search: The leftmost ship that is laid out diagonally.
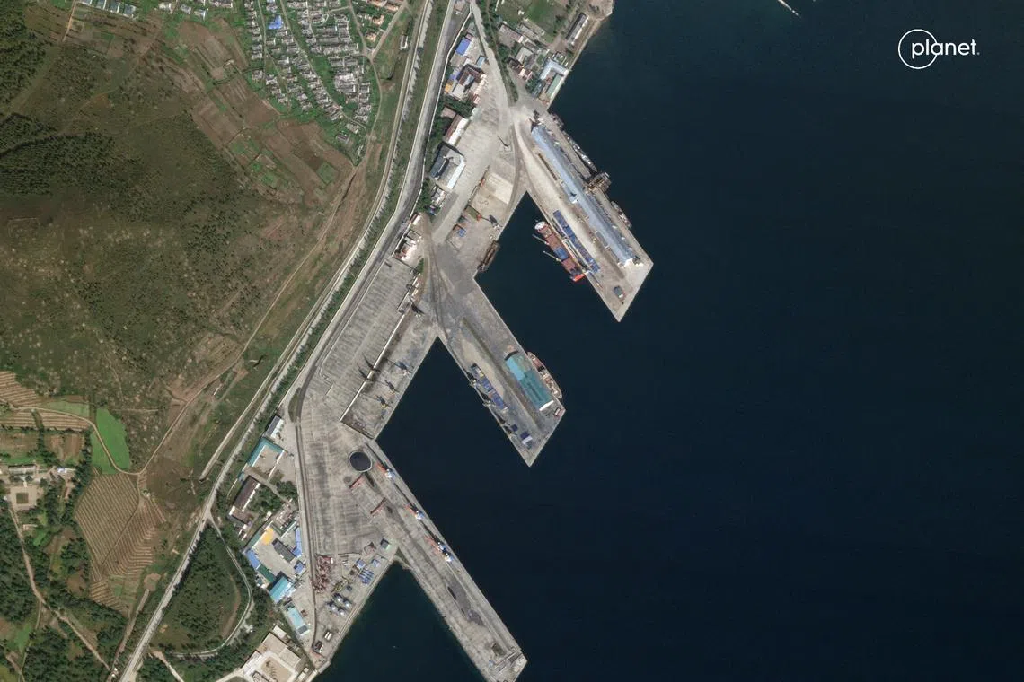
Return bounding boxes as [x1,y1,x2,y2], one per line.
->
[478,241,502,273]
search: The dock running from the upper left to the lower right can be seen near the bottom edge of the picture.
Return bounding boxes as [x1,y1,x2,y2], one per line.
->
[375,440,527,682]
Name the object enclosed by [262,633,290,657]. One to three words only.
building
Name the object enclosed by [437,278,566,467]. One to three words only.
pier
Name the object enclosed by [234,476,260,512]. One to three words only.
building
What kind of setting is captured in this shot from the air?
port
